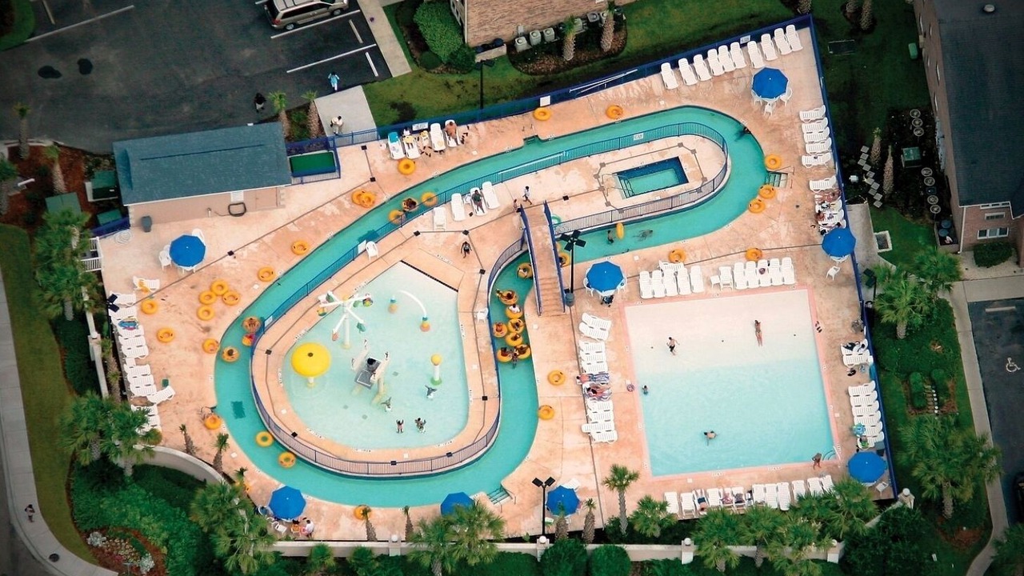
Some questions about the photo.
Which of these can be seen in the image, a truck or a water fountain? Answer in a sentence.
Visible in the photo is a water fountain.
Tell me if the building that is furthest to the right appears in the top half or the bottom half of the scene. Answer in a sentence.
It is in the top half that the building that is furthest to the right appears.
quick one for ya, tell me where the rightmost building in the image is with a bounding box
[916,0,1024,263]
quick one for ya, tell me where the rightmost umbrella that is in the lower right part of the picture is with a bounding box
[848,453,885,491]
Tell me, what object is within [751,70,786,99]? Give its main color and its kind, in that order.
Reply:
blue umbrella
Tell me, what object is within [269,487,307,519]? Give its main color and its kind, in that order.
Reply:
blue umbrella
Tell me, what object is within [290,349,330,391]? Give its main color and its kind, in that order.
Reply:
yellow fountain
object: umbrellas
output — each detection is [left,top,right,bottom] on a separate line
[751,70,786,99]
[438,489,477,520]
[848,453,885,491]
[819,228,858,260]
[269,487,307,519]
[545,485,583,519]
[170,236,208,266]
[585,262,622,292]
